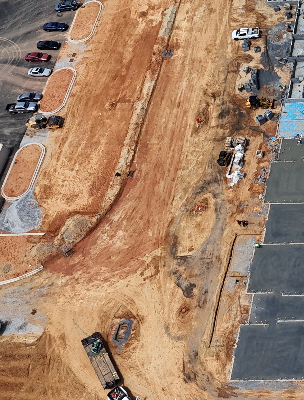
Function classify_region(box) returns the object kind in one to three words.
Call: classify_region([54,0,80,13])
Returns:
vehicle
